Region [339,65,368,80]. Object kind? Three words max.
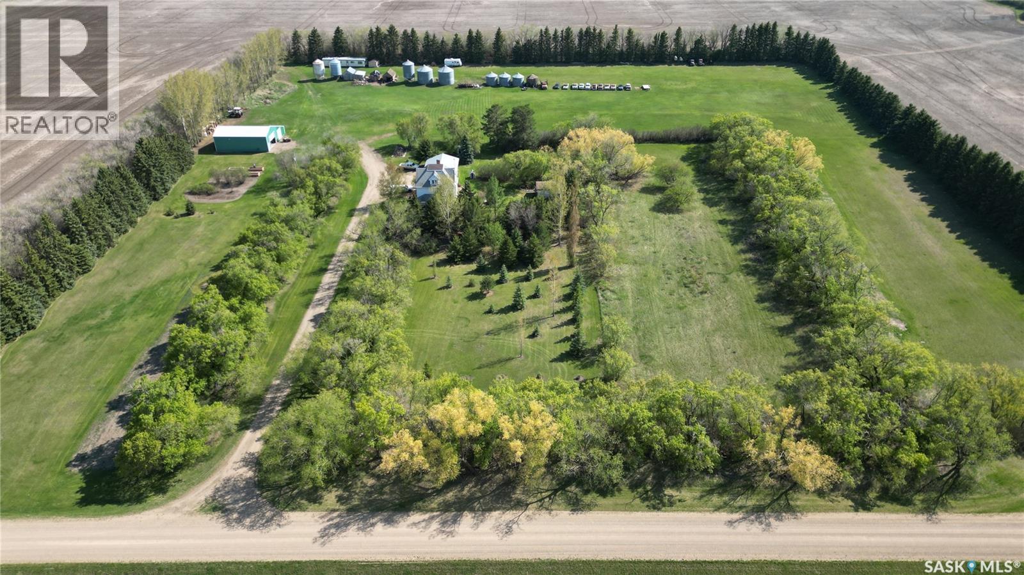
shed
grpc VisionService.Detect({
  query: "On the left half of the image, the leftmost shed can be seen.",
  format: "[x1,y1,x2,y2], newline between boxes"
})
[211,124,281,153]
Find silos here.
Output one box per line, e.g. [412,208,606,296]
[311,55,325,78]
[499,70,511,86]
[329,54,342,75]
[438,63,454,84]
[417,63,433,84]
[402,57,415,79]
[486,70,498,86]
[512,70,524,86]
